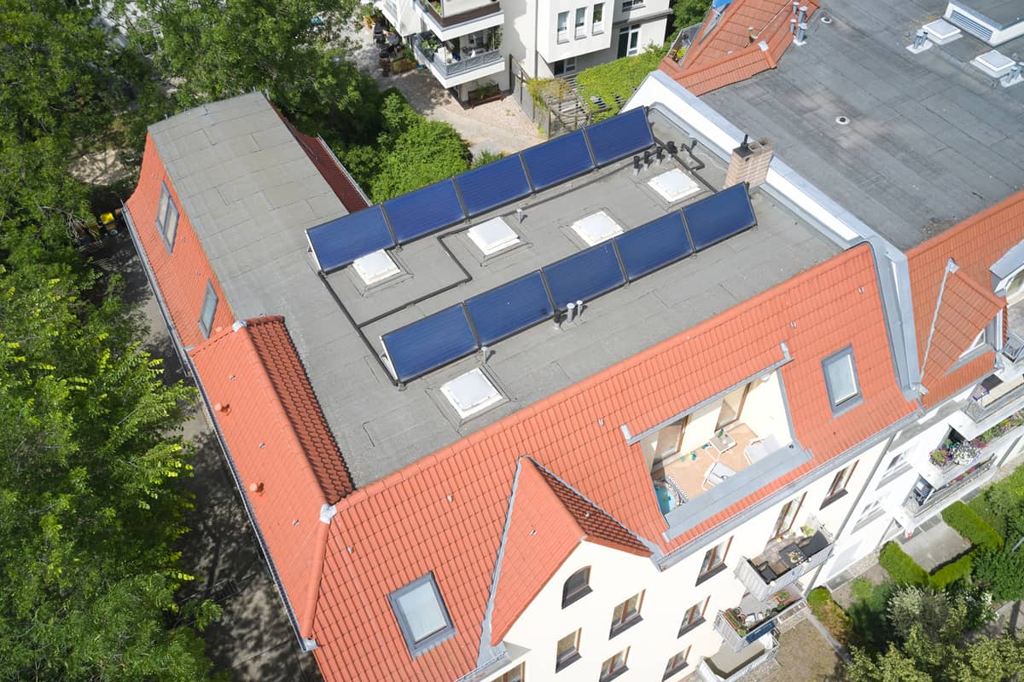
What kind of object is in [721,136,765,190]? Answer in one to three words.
chimney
